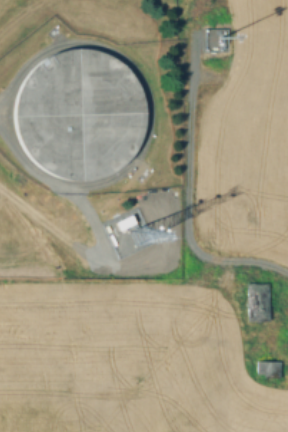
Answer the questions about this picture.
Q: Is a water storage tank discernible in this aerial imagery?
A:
Yes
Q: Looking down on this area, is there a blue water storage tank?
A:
No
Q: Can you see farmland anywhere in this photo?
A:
Yes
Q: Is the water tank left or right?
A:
left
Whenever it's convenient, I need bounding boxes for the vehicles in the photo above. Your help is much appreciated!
[106,224,113,234]
[110,235,118,246]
